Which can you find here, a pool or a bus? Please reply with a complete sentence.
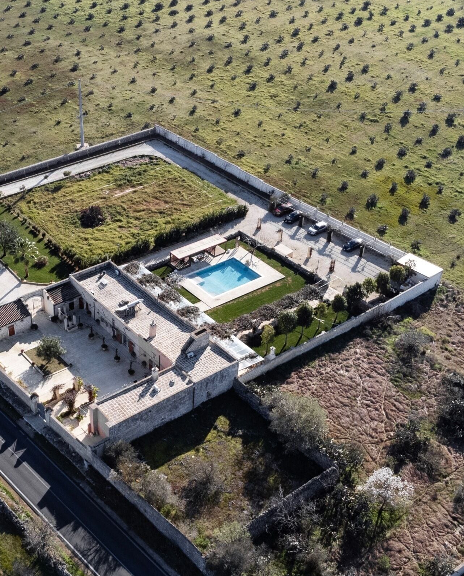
There is a pool in the scene.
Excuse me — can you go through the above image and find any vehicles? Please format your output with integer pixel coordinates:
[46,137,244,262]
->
[342,238,363,252]
[286,211,306,223]
[309,221,329,235]
[273,203,292,215]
